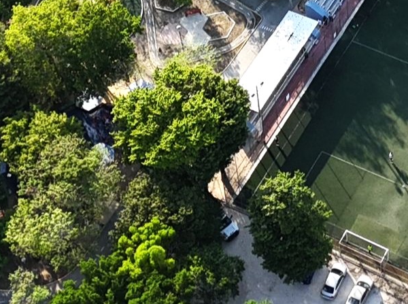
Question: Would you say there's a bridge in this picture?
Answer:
No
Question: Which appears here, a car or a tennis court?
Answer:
car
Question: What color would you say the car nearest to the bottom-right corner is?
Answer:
white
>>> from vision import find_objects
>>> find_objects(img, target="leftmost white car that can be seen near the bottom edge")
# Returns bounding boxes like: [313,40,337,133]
[318,256,351,299]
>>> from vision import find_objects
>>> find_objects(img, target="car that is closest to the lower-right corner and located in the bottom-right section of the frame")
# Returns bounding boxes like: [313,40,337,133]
[344,270,375,304]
